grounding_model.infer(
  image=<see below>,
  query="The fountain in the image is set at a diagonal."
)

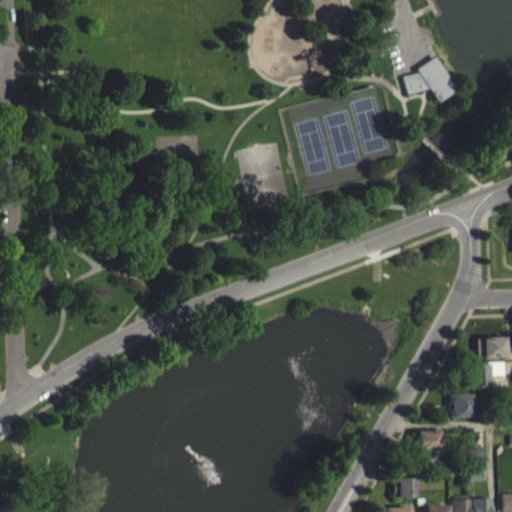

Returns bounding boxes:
[186,446,223,489]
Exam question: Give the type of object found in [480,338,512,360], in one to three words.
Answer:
house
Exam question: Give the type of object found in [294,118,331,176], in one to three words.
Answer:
tennis court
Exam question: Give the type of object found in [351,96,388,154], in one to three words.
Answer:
tennis court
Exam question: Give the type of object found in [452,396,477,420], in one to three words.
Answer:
house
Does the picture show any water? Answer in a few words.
Yes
